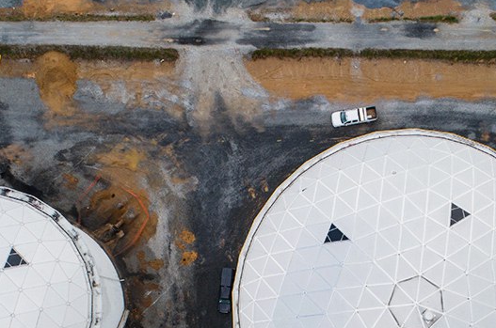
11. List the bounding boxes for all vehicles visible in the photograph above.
[215,266,235,315]
[330,106,378,127]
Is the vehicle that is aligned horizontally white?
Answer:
Yes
